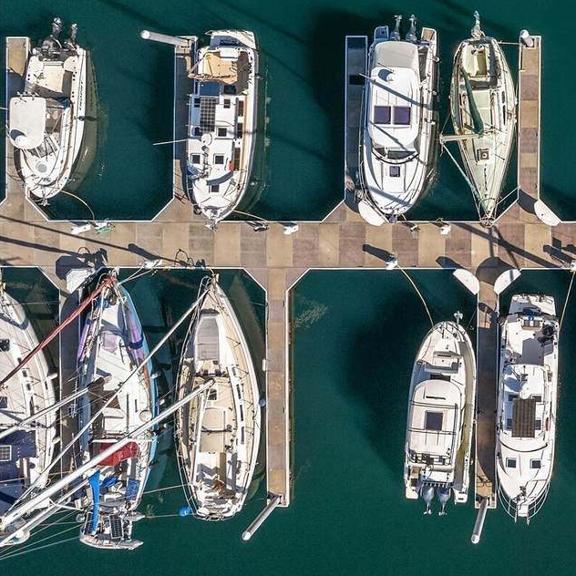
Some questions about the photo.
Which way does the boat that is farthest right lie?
up and down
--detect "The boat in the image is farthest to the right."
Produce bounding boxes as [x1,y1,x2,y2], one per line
[495,294,559,519]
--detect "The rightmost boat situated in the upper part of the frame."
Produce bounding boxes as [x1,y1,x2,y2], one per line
[440,8,516,224]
